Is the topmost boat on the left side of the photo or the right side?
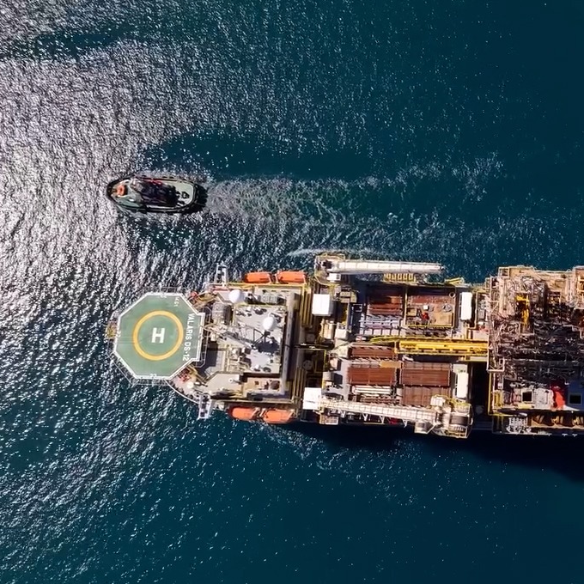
left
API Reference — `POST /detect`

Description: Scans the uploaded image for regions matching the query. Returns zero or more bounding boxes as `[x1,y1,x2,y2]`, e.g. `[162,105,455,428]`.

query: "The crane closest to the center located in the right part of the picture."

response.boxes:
[305,256,447,289]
